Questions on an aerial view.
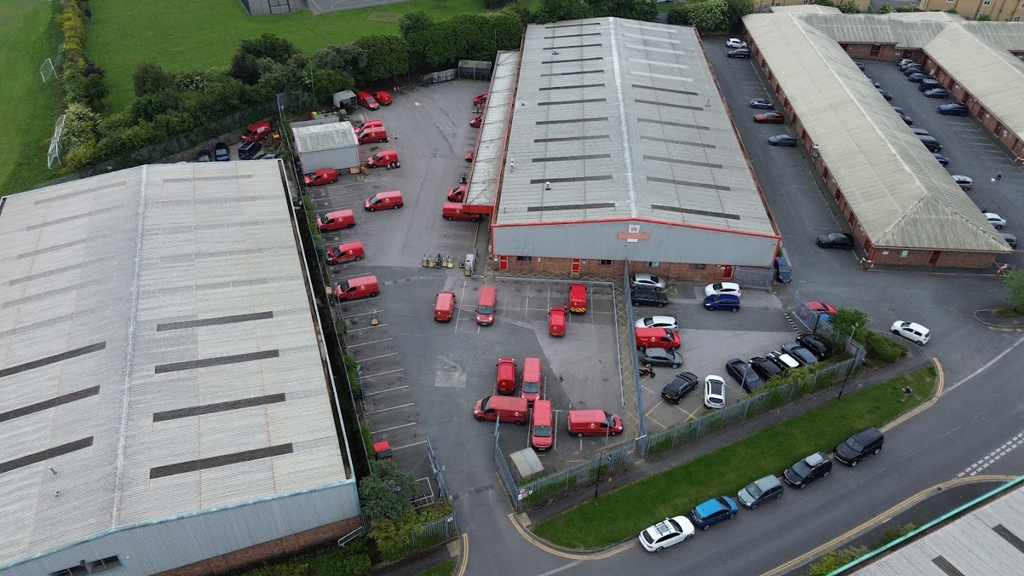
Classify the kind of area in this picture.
industrial area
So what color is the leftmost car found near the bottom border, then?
white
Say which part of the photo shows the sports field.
top left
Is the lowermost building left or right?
right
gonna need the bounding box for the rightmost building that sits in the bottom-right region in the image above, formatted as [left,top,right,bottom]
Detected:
[824,475,1024,576]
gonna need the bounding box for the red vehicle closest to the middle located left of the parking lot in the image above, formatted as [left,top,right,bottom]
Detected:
[476,284,496,322]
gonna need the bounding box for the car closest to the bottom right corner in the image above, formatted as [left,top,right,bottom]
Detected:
[833,426,887,465]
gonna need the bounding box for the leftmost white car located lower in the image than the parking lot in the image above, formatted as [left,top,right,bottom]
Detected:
[638,518,695,554]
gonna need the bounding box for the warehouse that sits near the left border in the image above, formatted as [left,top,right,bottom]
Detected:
[0,157,365,576]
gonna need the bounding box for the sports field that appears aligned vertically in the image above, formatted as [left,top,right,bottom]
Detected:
[0,0,86,193]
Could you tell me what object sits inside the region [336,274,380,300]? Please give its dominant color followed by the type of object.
red vehicle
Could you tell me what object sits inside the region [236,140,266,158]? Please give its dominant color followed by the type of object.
black car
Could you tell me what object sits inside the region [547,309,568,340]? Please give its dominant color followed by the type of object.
red vehicle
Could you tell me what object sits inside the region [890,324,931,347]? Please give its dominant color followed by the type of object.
white car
